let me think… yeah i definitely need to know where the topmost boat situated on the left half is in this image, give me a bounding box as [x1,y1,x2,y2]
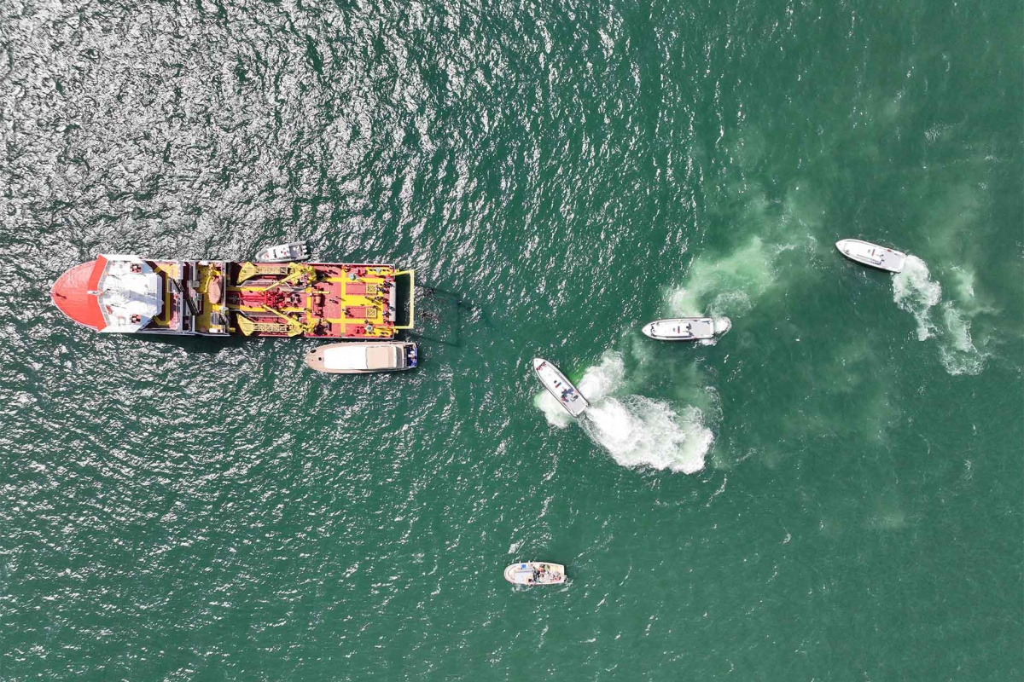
[252,241,308,262]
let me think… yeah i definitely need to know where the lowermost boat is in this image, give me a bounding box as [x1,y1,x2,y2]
[504,562,567,585]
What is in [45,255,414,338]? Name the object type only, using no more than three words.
ship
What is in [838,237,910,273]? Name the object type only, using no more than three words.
boat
